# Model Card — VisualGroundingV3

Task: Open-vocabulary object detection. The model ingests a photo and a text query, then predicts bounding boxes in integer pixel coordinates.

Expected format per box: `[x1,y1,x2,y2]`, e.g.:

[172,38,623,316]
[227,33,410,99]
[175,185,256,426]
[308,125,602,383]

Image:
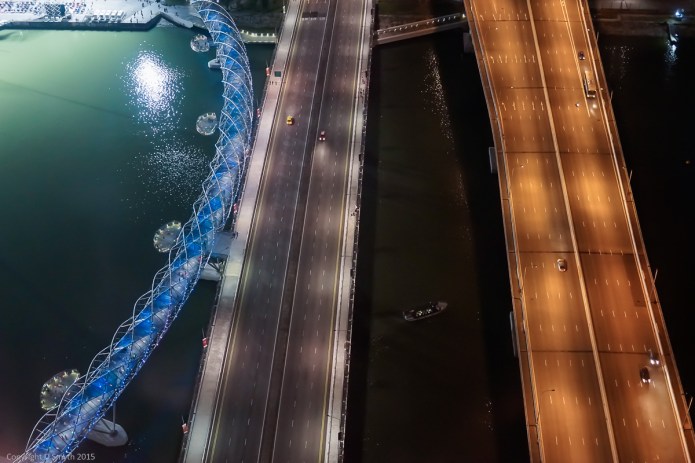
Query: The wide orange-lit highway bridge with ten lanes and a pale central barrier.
[462,0,695,463]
